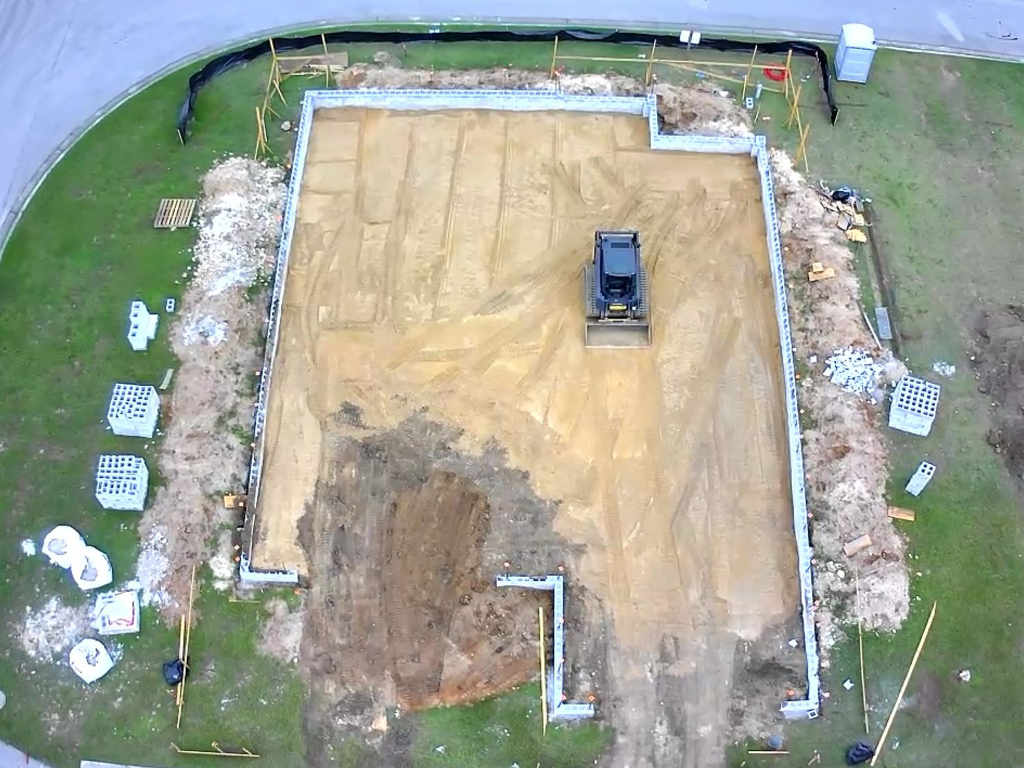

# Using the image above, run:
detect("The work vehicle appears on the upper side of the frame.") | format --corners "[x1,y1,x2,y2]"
[585,229,652,348]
